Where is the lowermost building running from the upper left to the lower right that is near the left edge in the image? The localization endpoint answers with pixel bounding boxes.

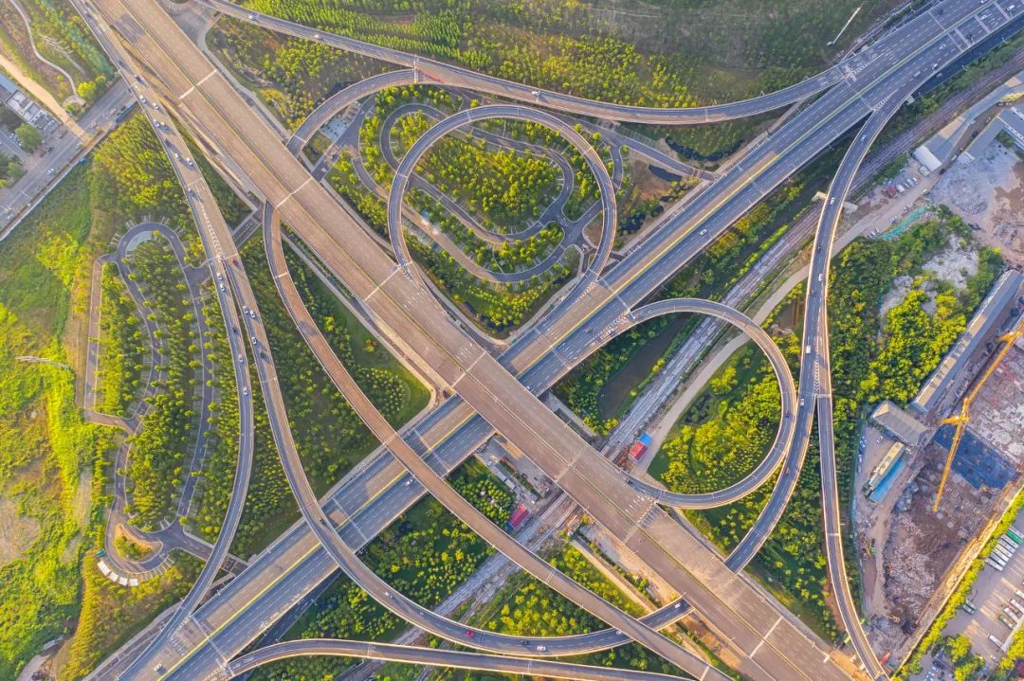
[6,90,70,139]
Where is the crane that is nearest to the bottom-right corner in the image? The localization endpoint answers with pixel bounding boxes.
[932,398,983,511]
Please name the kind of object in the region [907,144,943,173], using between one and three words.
building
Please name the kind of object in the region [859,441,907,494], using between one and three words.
building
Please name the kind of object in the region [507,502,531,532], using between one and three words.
shed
